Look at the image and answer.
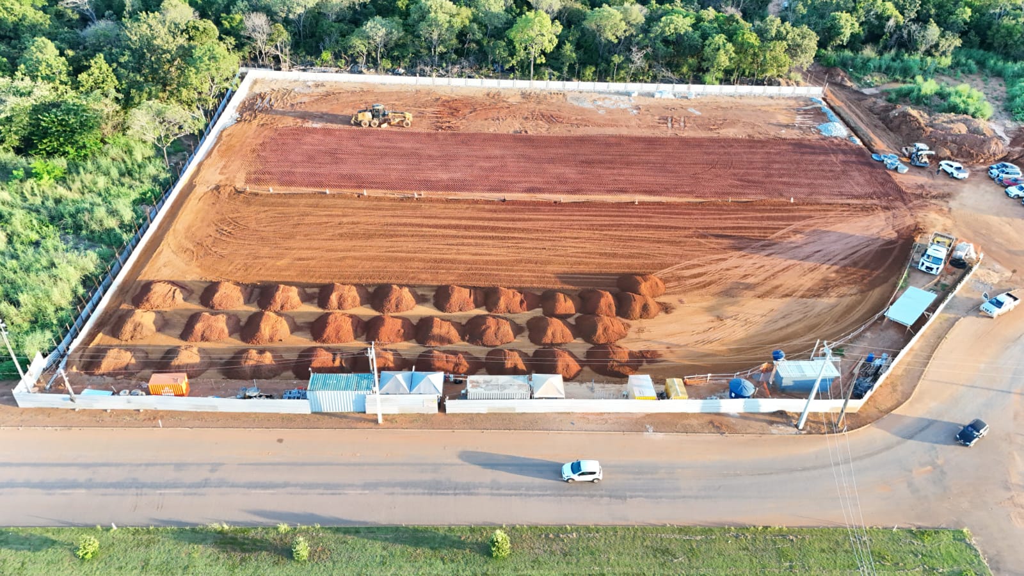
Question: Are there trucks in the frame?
Yes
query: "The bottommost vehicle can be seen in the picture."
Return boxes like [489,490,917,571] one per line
[561,463,602,485]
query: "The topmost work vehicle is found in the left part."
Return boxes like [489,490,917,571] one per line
[348,102,414,129]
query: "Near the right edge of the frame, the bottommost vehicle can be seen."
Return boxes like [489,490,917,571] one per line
[956,420,993,449]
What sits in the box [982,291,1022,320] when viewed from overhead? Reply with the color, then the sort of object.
white truck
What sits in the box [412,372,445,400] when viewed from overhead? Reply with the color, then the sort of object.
white tent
